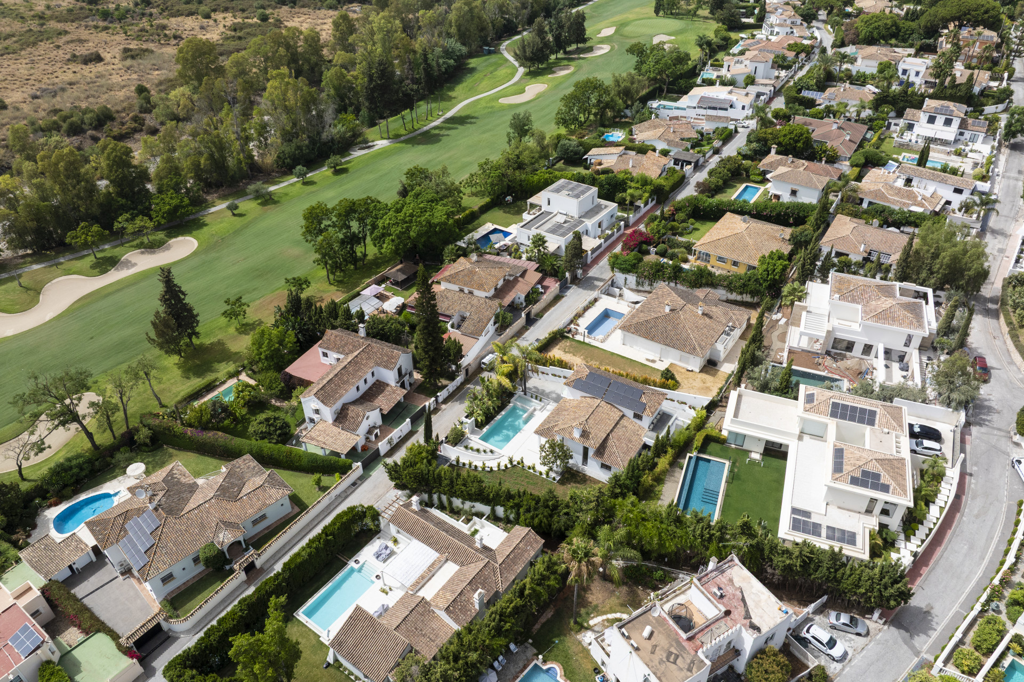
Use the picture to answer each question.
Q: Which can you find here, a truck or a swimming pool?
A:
swimming pool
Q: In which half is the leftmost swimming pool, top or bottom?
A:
bottom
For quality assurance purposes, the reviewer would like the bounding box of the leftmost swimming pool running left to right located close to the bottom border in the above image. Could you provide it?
[511,656,567,682]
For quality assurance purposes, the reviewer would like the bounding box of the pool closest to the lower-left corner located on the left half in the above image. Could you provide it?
[47,485,131,538]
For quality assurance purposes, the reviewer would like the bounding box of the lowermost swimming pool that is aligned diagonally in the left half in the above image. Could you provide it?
[294,553,384,636]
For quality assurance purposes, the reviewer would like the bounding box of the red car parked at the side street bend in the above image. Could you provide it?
[971,355,992,381]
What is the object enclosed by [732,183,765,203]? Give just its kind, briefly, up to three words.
swimming pool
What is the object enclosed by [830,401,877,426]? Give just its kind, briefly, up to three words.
solar array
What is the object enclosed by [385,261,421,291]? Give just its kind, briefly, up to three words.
gazebo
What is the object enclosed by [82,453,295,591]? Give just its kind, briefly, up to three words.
house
